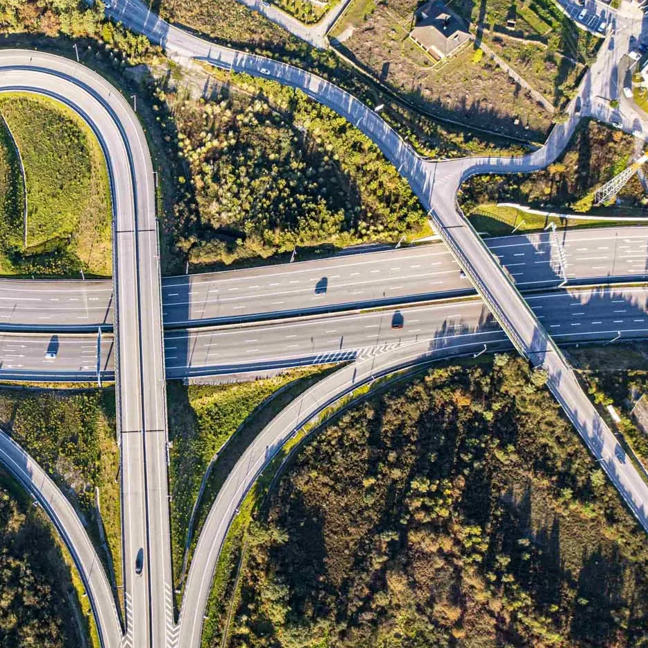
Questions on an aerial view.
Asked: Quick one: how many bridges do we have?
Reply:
2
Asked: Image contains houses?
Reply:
Yes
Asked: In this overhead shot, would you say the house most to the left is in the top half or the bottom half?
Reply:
top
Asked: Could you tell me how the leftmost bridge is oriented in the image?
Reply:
from top to bottom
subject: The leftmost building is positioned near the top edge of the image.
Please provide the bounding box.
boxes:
[399,10,479,71]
